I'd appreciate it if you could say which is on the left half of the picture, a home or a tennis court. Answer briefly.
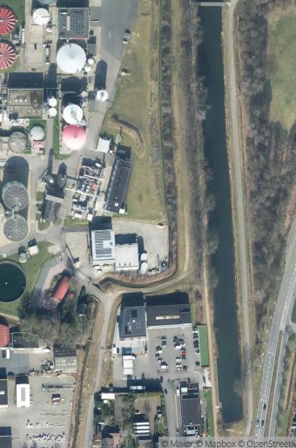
home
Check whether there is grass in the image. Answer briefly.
Yes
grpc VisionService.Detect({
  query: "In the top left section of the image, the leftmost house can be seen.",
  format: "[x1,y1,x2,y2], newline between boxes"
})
[9,90,42,119]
